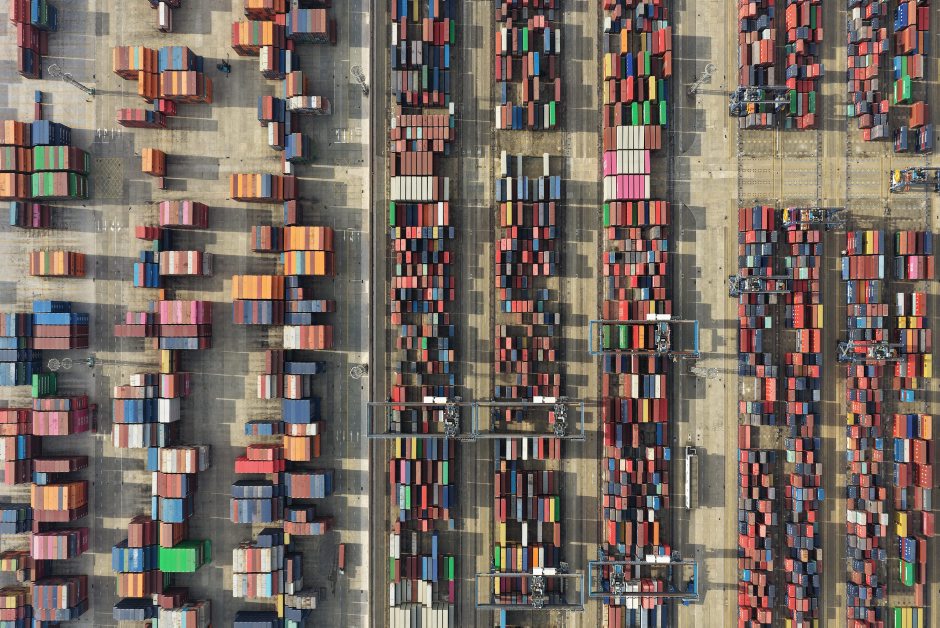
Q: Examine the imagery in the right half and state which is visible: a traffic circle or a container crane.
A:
container crane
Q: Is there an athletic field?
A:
No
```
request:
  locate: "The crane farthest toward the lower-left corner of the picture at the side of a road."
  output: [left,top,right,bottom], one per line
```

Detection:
[367,395,476,443]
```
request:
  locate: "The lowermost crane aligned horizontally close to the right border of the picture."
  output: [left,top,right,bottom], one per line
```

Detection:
[837,338,908,364]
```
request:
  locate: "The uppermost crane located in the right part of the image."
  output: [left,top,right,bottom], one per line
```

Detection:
[730,83,794,121]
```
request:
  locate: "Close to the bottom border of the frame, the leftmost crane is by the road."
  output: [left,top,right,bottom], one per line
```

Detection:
[476,556,585,614]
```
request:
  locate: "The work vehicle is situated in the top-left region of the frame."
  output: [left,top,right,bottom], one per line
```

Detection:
[214,54,229,77]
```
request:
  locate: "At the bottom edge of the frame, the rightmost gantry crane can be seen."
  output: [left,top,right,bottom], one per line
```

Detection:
[588,545,699,602]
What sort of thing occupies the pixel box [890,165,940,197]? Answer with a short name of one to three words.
crane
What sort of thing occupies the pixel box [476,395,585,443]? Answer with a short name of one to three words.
container crane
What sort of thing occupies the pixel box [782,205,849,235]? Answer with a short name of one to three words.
crane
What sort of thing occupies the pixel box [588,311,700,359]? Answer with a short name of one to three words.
container crane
